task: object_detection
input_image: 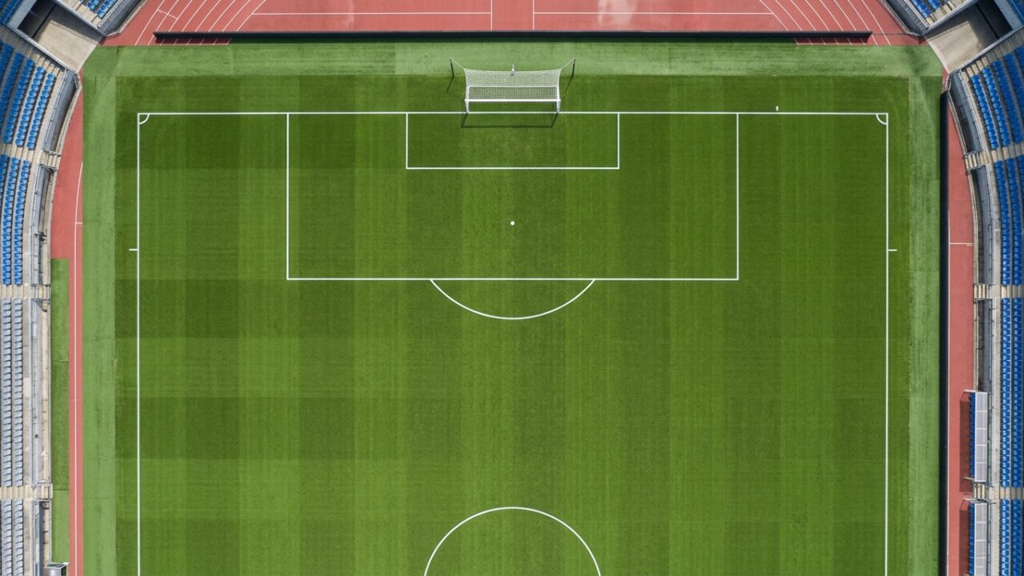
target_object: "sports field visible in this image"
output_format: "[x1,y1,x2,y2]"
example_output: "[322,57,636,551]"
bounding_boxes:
[115,76,910,576]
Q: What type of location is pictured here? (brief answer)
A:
sports ground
